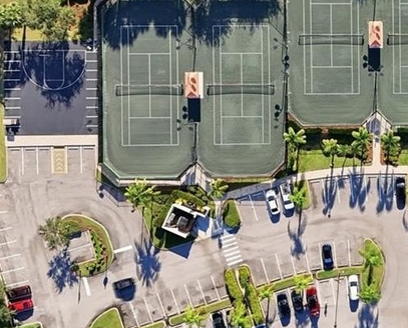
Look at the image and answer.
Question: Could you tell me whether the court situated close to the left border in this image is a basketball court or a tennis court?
basketball court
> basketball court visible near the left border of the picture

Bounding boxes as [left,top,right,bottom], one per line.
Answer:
[4,41,94,135]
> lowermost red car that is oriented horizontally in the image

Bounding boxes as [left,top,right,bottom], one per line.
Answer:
[9,298,34,312]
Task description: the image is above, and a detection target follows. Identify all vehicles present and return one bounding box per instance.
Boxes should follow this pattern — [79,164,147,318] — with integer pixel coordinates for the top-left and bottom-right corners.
[9,298,34,312]
[291,286,304,312]
[276,289,289,317]
[306,286,319,315]
[266,190,279,215]
[7,285,33,298]
[395,177,406,202]
[213,312,226,328]
[279,181,295,209]
[112,276,136,289]
[347,275,358,299]
[322,244,333,269]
